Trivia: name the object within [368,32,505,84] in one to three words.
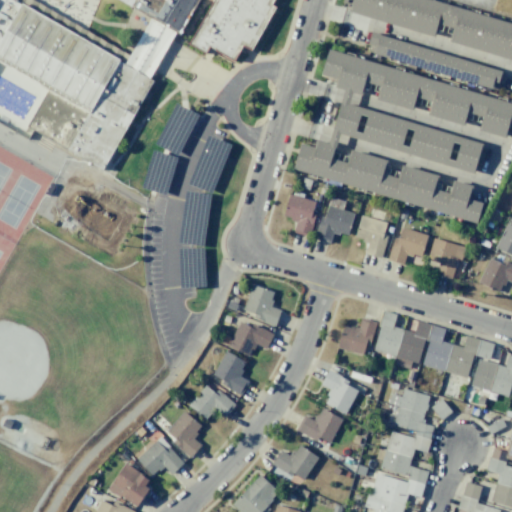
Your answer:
building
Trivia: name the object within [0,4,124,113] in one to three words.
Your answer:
building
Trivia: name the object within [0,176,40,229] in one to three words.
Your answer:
tennis court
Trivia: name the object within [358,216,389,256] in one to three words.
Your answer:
house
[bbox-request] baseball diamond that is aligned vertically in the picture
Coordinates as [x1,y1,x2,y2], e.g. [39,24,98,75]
[0,318,60,464]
